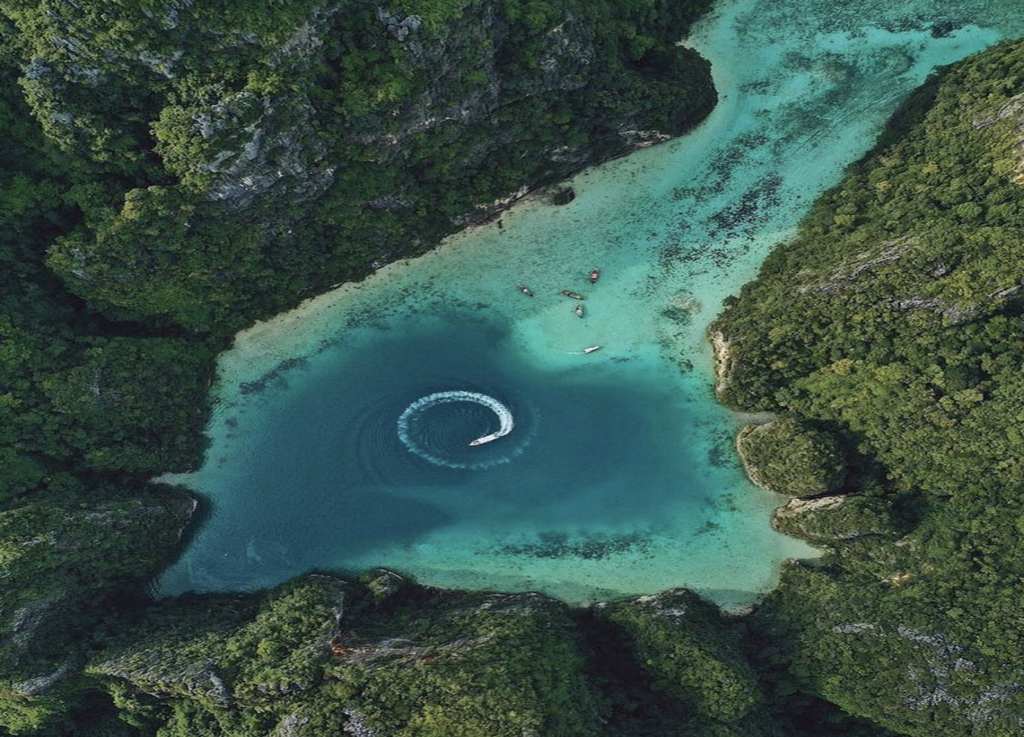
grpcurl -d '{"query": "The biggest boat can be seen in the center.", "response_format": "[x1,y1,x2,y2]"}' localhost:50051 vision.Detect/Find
[469,432,500,445]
